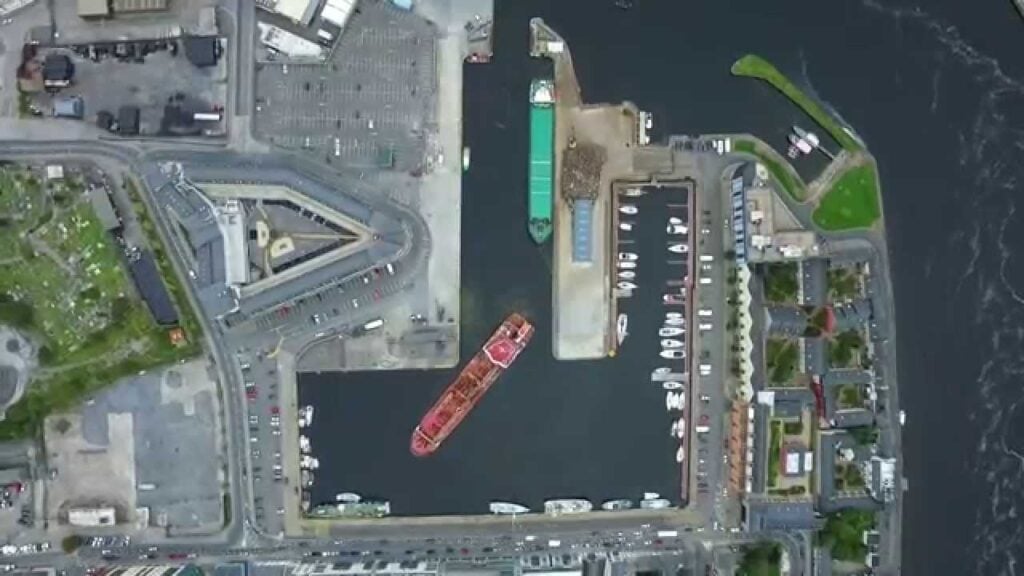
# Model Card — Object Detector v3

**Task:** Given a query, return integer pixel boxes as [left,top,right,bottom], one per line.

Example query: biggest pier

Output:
[530,17,661,358]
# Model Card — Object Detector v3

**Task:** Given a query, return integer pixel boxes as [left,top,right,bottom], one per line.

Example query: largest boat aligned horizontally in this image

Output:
[309,502,390,518]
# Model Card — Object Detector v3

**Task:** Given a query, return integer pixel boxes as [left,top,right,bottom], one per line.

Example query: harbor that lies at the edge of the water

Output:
[277,0,700,534]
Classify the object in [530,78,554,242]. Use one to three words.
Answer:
ship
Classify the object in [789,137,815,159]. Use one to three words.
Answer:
boat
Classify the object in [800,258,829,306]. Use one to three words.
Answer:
building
